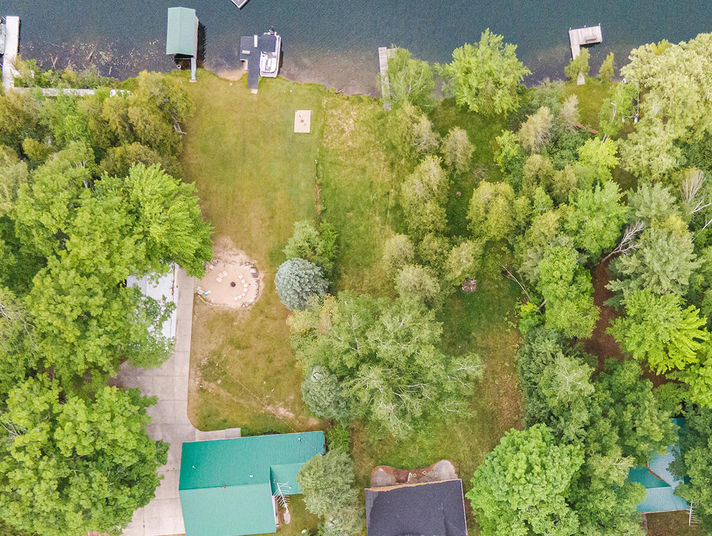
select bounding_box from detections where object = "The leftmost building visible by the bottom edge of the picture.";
[179,431,330,536]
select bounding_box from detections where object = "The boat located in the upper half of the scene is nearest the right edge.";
[258,27,282,80]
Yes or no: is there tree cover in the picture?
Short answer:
Yes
